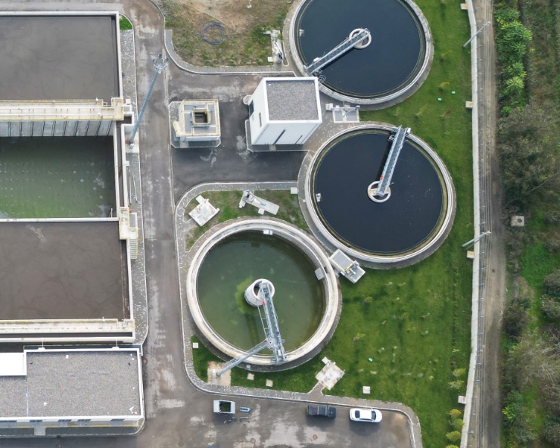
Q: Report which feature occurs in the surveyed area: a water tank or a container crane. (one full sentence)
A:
The one in the frame is a water tank.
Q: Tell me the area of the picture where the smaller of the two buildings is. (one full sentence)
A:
The smaller of the two buildings sits in the top section of the image.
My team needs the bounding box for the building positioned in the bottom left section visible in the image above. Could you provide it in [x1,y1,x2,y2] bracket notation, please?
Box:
[0,344,144,435]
